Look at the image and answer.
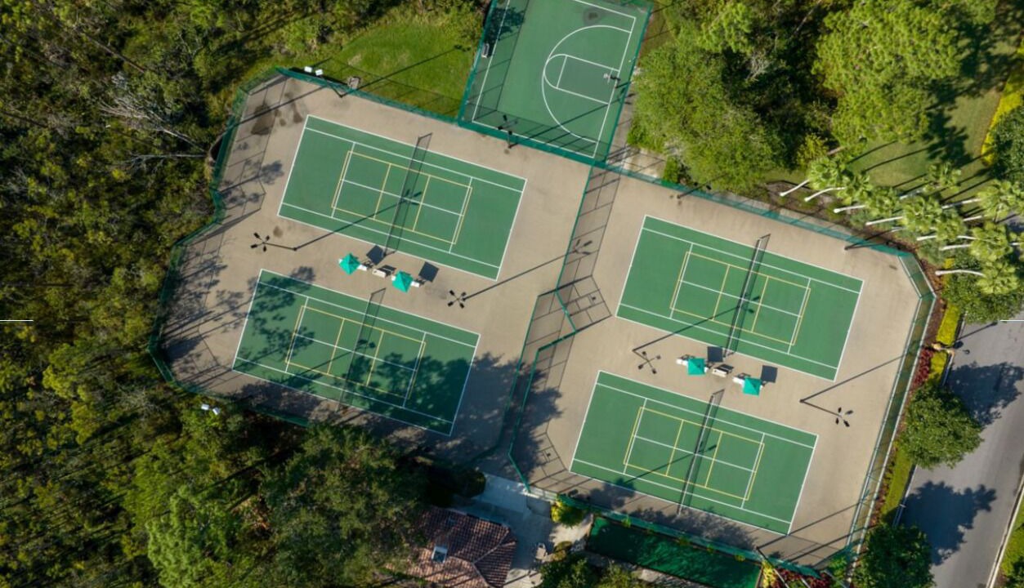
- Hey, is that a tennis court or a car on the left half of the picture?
tennis court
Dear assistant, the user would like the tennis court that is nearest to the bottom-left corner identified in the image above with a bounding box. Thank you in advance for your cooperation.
[231,270,480,436]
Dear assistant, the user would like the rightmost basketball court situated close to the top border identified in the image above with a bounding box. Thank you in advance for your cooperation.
[459,0,652,163]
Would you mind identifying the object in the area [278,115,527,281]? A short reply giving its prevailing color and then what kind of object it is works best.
green tennis court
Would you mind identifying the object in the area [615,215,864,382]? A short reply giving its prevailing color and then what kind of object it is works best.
green tennis court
